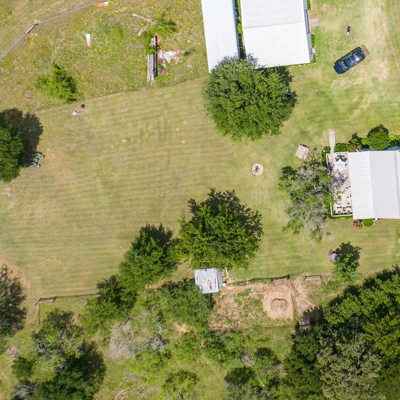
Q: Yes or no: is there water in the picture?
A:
No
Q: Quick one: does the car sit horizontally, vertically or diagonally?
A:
diagonally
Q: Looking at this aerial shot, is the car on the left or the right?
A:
right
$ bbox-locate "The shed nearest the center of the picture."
[194,263,223,294]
